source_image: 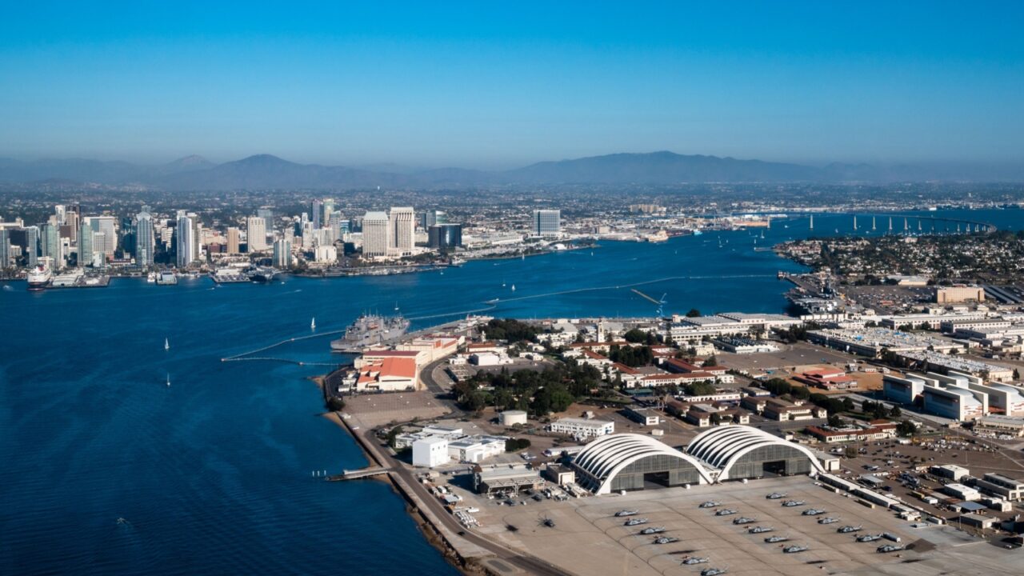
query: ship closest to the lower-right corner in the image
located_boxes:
[790,274,833,312]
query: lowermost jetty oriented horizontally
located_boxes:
[327,470,388,484]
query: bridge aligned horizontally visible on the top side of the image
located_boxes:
[728,214,1000,233]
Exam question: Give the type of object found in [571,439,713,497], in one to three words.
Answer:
hangar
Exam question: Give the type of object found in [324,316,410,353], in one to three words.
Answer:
ship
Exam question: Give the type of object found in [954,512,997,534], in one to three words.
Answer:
shed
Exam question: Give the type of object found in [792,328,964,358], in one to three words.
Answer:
building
